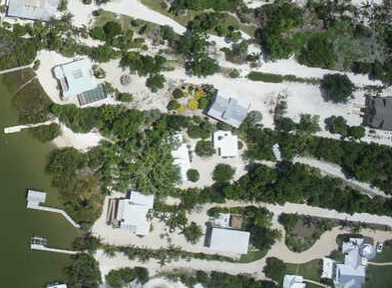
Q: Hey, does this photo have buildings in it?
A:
Yes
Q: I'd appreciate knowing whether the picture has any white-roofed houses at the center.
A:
Yes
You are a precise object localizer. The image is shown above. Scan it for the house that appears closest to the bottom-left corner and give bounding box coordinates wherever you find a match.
[104,191,155,235]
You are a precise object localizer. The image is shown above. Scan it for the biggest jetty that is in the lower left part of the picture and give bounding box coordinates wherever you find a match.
[26,190,80,229]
